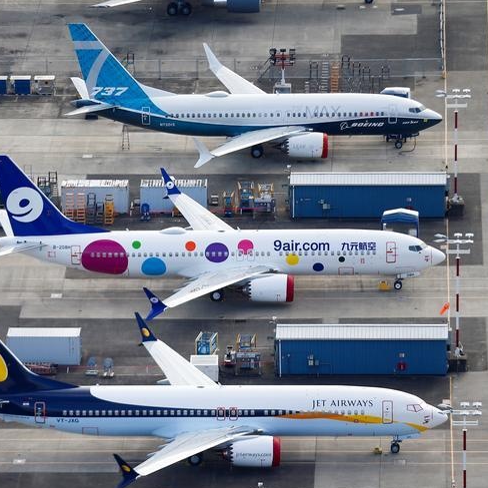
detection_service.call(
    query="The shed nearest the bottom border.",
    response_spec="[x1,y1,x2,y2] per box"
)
[266,324,455,375]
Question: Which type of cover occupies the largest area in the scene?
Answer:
paved ground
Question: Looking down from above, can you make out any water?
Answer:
No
